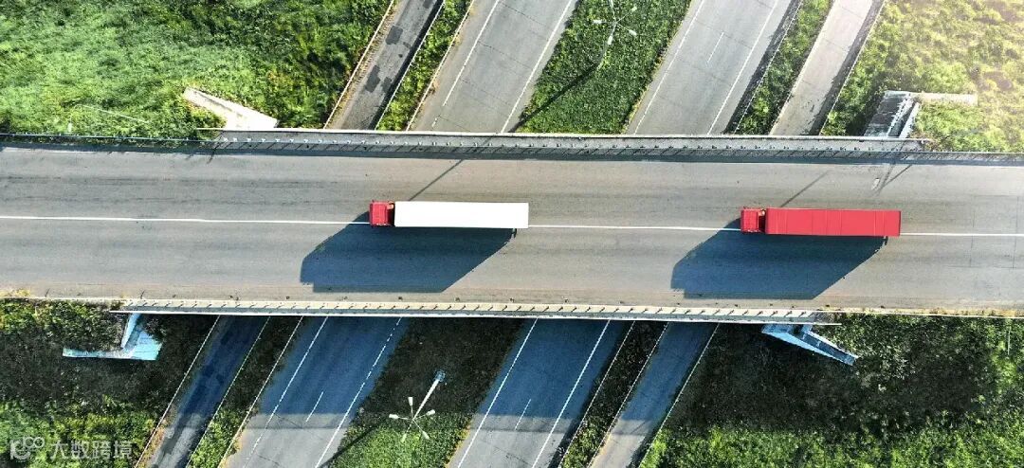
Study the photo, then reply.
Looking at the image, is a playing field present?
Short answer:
No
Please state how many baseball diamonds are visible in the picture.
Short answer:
none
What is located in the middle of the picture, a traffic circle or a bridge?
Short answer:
bridge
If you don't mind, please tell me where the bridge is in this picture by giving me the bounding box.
[63,86,981,366]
